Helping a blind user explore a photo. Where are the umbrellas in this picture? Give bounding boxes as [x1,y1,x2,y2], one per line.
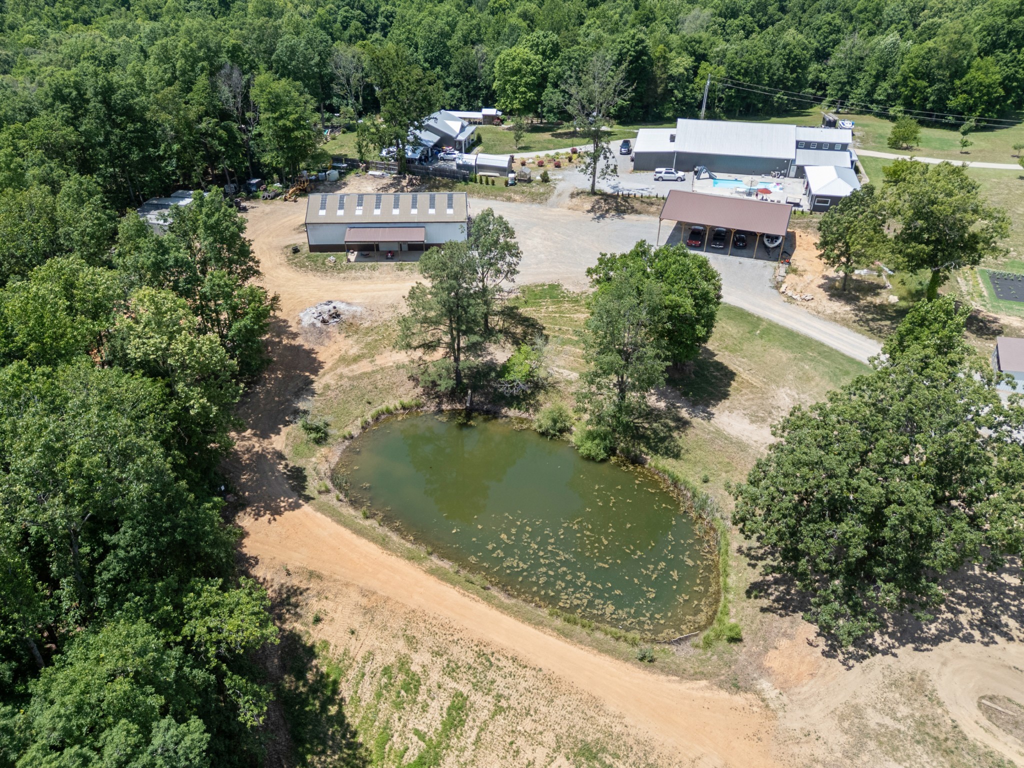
[742,172,765,196]
[757,180,777,198]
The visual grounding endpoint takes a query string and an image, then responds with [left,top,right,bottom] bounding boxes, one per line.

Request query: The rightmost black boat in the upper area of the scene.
[761,233,782,264]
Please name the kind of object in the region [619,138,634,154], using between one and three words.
car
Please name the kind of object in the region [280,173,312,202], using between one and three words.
work vehicle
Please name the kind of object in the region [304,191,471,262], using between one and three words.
barn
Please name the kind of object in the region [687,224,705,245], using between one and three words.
vehicle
